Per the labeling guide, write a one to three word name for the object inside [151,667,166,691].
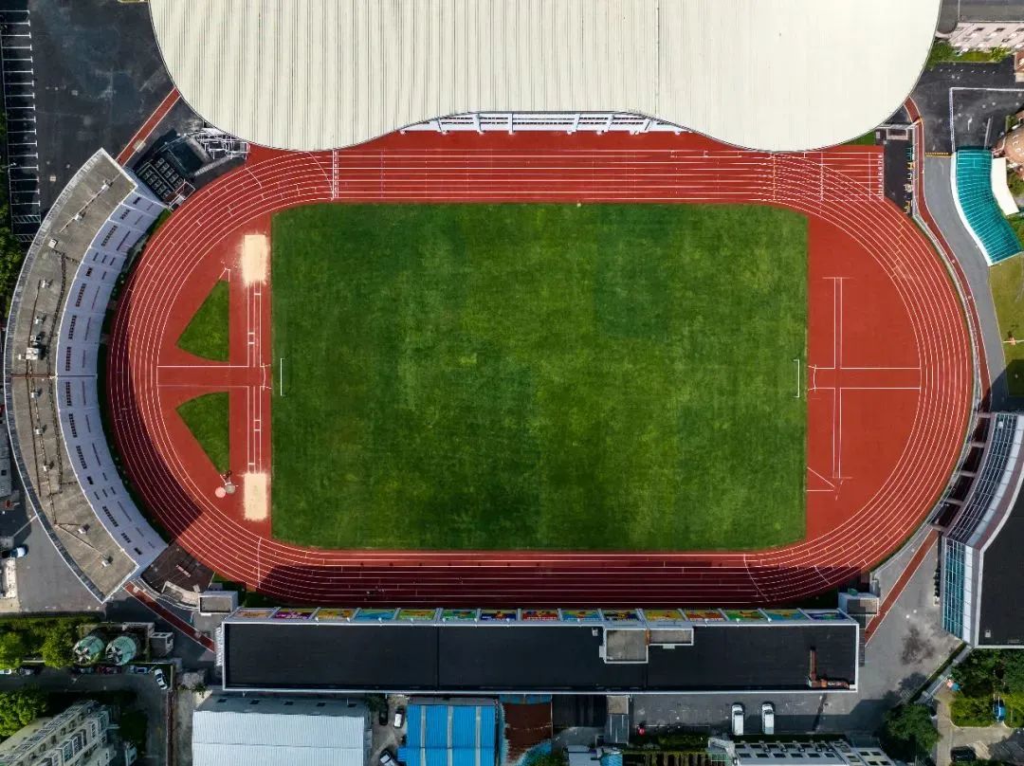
car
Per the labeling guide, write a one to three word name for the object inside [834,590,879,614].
shed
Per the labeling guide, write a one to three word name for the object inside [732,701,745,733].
vehicle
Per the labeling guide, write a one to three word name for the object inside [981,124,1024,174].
building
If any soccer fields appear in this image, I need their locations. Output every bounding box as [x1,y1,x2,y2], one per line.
[271,202,808,552]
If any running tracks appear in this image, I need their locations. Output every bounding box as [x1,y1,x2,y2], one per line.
[106,131,972,606]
